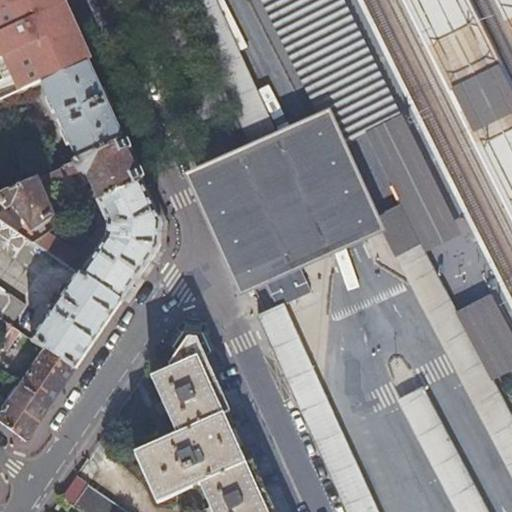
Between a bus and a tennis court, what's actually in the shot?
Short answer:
bus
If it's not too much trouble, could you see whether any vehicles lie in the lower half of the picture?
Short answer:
Yes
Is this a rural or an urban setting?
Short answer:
urban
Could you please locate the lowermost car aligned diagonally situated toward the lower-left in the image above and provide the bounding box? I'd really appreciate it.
[50,409,68,430]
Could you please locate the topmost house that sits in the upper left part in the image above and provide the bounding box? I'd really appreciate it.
[0,0,92,89]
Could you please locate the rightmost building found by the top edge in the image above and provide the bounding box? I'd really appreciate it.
[260,0,401,139]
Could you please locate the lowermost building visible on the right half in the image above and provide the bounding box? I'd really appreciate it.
[456,294,512,380]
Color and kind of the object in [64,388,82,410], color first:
white car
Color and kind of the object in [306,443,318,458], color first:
white vehicle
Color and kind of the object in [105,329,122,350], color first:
white car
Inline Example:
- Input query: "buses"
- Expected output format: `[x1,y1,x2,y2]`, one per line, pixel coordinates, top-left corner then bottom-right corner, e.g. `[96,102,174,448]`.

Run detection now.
[218,0,250,50]
[334,249,361,292]
[258,83,286,122]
